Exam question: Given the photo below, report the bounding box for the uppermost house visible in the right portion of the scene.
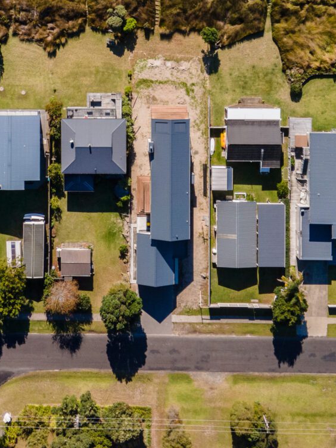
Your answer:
[225,98,285,174]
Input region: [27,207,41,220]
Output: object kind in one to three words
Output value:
vehicle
